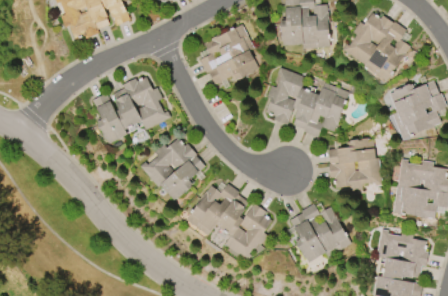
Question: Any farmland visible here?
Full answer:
No, there is no farmland in the image.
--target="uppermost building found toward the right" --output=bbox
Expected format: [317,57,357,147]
[280,0,332,48]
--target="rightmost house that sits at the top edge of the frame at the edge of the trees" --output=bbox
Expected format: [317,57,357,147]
[342,10,416,86]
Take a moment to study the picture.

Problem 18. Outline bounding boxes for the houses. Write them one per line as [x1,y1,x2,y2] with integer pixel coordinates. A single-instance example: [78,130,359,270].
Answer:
[138,136,207,204]
[264,64,350,136]
[328,138,382,190]
[183,181,275,266]
[92,74,174,146]
[390,78,448,141]
[289,202,356,262]
[198,20,260,88]
[375,232,430,296]
[394,160,448,217]
[56,0,132,42]
[342,10,416,86]
[280,0,332,48]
